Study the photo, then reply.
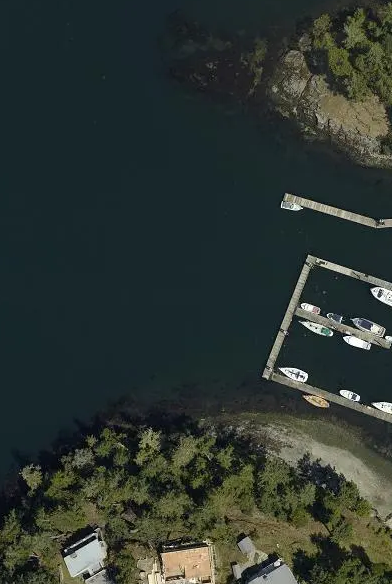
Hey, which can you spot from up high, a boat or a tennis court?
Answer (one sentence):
It is a boat that can be seen here.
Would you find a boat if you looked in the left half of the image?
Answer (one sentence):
No, in the left half of the image there is no boat.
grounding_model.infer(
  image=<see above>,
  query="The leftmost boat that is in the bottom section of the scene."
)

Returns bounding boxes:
[279,368,308,386]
